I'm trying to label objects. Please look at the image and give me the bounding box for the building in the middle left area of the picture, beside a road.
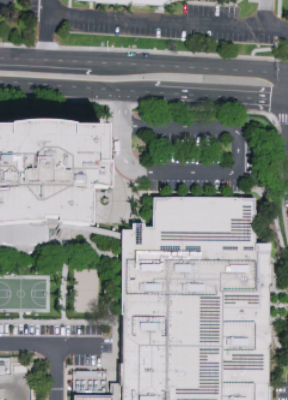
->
[0,119,116,226]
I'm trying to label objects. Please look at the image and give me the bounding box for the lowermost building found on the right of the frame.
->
[122,196,272,400]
